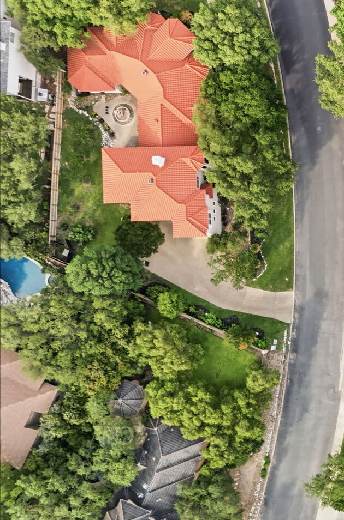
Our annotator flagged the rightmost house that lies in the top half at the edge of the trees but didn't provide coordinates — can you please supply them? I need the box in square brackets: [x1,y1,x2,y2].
[68,12,220,238]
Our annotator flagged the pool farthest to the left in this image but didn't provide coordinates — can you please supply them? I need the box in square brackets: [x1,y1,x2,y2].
[0,253,48,300]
